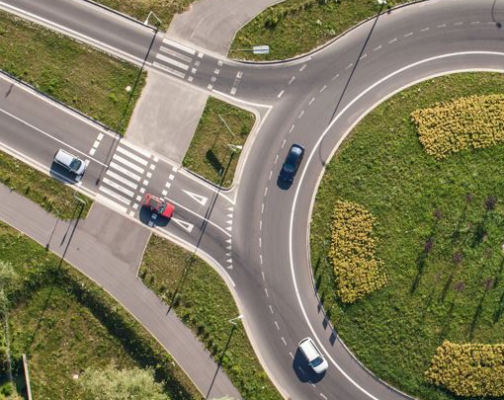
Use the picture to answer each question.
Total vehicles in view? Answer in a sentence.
The photo contains 4 vehicles.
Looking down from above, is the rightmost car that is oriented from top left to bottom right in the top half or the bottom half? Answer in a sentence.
You can find the rightmost car that is oriented from top left to bottom right in the bottom half.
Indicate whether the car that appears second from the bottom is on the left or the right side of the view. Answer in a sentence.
You can find the car that appears second from the bottom on the left side of the picture.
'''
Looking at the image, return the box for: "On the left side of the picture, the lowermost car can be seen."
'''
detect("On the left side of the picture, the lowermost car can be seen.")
[142,193,175,217]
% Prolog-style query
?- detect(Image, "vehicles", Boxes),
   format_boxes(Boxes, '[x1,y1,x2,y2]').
[281,143,305,184]
[297,336,328,372]
[142,193,175,217]
[52,148,87,174]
